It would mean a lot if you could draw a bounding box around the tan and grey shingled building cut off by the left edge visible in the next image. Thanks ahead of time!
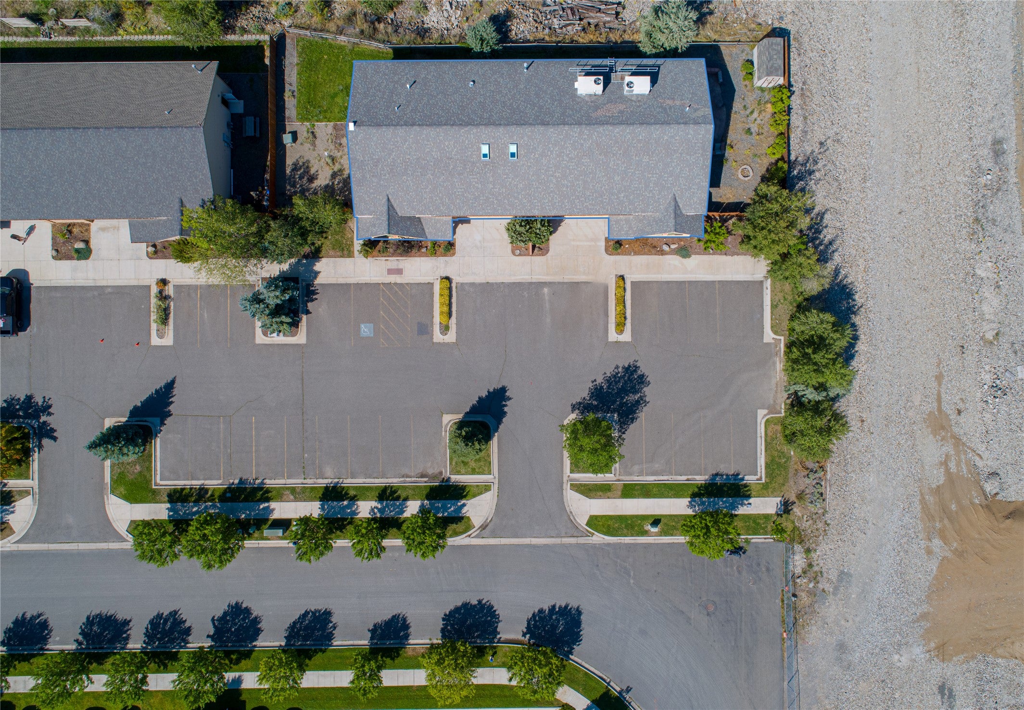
[0,60,246,241]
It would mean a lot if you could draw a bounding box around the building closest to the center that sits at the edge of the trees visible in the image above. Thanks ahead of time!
[346,51,714,241]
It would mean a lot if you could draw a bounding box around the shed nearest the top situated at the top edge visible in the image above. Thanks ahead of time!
[754,29,791,85]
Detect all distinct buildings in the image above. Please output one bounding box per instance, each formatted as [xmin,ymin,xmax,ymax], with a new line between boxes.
[0,60,246,241]
[346,51,714,241]
[754,29,791,85]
